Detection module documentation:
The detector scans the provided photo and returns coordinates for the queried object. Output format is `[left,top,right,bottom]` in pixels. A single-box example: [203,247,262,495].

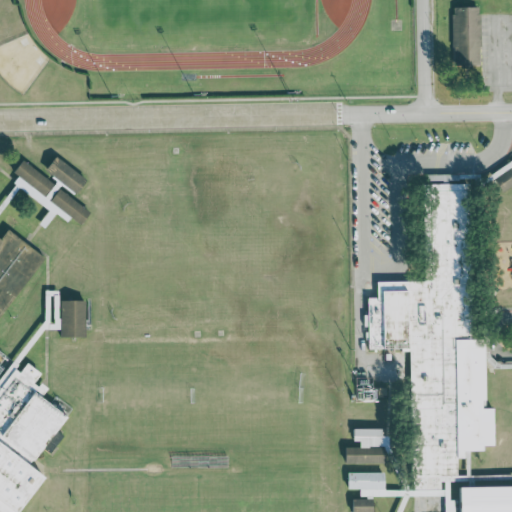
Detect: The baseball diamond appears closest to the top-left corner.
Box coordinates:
[0,33,48,94]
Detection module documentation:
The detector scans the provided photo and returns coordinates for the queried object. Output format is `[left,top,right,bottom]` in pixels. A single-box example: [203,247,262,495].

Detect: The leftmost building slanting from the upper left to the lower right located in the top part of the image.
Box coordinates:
[16,160,56,196]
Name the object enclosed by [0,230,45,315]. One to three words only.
building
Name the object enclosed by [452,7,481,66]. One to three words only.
house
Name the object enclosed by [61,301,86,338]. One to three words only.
house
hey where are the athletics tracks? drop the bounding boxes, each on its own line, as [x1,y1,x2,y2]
[24,0,370,72]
